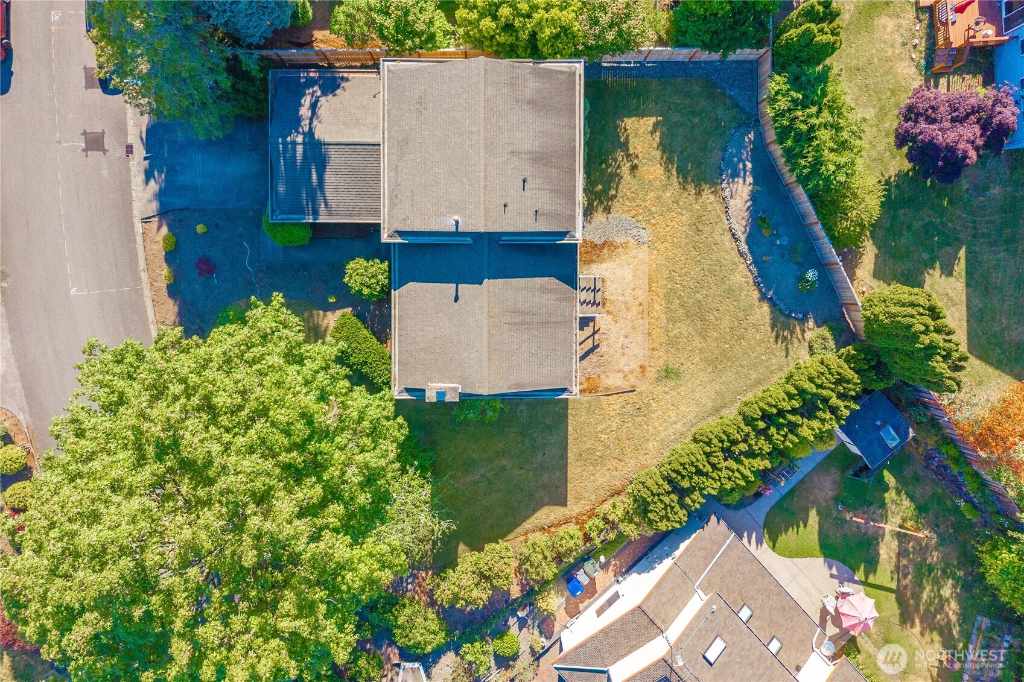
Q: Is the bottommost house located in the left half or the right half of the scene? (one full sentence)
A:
The bottommost house appears in the right half of the scene.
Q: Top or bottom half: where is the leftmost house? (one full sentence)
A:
The top half of the photo is where the leftmost house is.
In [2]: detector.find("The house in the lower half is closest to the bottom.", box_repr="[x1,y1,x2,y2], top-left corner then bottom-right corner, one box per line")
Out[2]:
[549,510,872,682]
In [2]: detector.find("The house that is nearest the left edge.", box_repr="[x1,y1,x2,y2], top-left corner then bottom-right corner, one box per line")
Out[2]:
[269,58,585,401]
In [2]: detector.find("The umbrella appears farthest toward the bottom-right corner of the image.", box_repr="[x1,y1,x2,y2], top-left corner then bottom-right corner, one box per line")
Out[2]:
[837,593,878,632]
